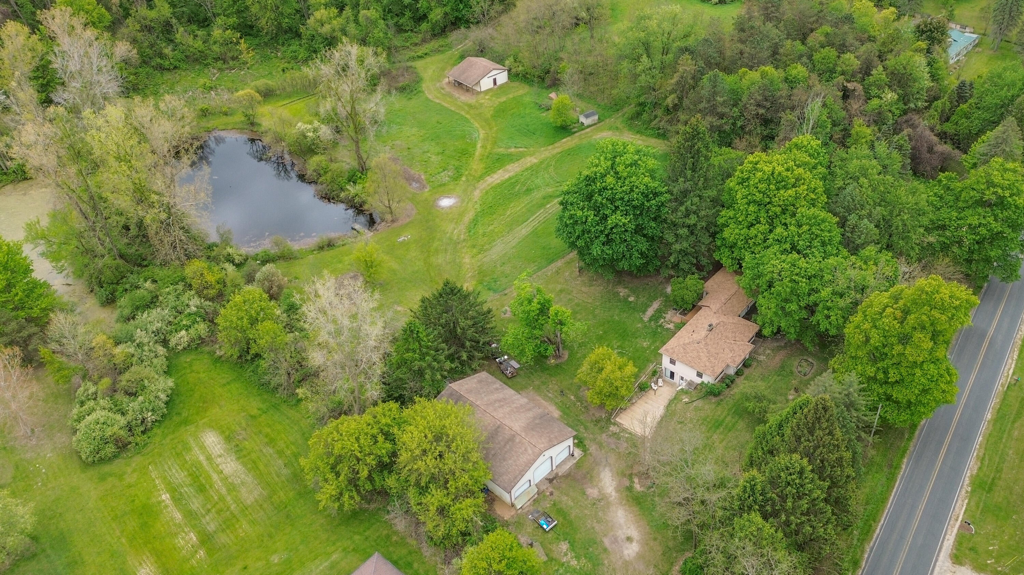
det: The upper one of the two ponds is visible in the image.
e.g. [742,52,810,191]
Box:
[178,133,375,253]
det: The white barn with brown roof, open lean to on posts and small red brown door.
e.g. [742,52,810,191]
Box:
[446,57,509,94]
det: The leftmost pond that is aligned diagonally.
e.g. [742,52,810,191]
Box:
[0,179,115,336]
